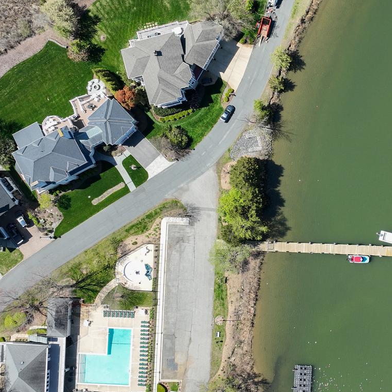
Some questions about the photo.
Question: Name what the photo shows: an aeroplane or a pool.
pool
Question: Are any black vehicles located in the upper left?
No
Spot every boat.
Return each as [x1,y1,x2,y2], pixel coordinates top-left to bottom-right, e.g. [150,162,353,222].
[342,255,369,264]
[373,231,392,244]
